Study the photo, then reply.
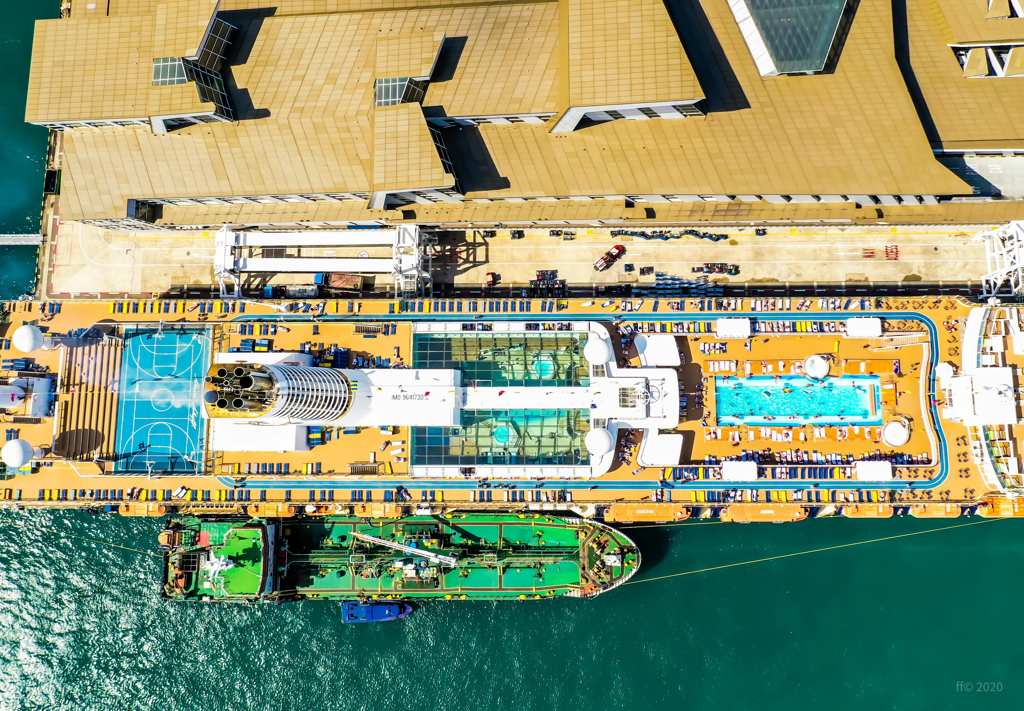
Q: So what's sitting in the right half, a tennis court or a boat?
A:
boat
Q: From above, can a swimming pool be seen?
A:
Yes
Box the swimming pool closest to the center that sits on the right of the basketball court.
[490,409,560,422]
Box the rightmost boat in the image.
[972,496,1024,517]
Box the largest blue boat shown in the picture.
[340,600,413,625]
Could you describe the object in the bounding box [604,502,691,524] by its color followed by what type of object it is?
orange boat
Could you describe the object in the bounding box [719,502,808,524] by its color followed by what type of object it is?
orange boat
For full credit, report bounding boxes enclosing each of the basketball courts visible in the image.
[59,316,222,481]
